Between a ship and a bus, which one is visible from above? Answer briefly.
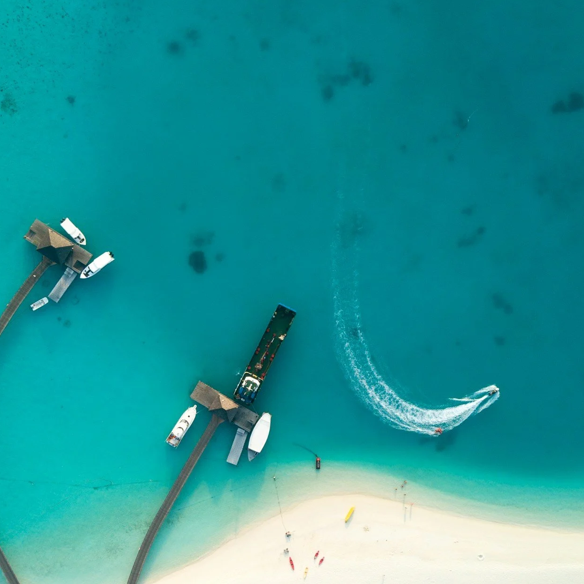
ship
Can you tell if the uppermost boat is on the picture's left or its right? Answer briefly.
left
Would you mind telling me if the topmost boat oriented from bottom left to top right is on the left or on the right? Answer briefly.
left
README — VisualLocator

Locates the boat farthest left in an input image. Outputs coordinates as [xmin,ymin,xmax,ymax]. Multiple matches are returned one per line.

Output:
[30,297,49,311]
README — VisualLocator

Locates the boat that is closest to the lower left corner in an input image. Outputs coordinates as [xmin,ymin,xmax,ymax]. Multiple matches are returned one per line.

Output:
[163,404,196,452]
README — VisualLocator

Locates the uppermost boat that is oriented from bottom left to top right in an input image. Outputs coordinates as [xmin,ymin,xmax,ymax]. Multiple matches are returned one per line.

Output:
[80,251,115,278]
